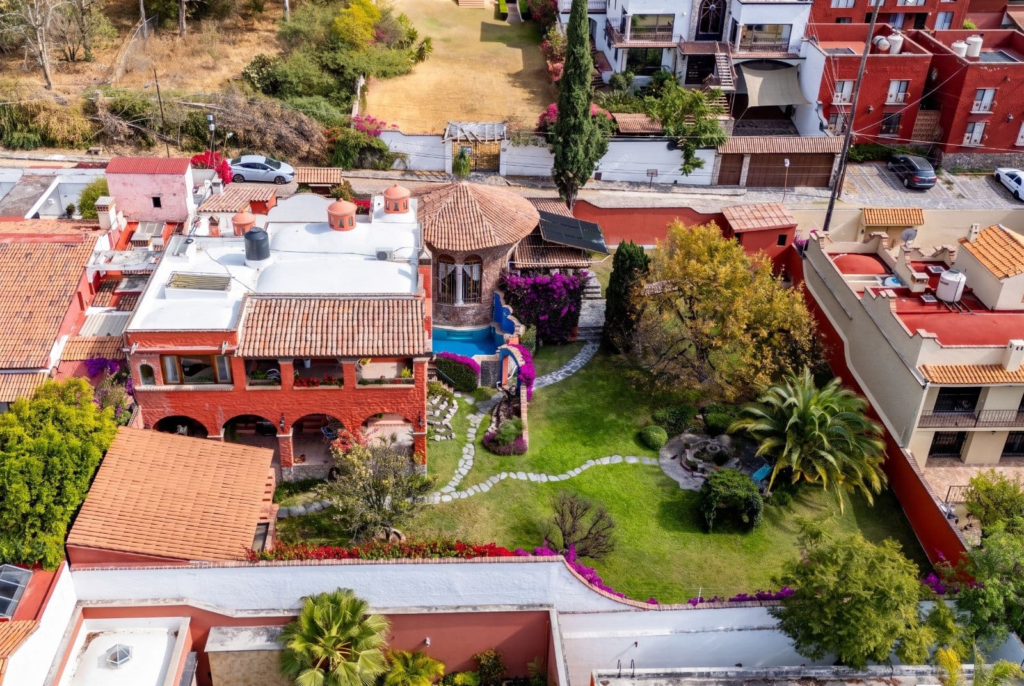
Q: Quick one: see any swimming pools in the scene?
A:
Yes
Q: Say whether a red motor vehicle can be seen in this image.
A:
No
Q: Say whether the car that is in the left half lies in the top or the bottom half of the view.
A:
top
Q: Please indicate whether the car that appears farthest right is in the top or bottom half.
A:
top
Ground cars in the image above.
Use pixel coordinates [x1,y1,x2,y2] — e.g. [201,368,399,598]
[989,168,1024,194]
[882,153,940,184]
[229,158,296,185]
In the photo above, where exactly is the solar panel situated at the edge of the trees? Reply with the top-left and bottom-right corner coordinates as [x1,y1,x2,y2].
[538,211,608,314]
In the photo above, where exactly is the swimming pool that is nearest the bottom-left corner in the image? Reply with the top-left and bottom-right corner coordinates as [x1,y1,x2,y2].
[430,321,507,389]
